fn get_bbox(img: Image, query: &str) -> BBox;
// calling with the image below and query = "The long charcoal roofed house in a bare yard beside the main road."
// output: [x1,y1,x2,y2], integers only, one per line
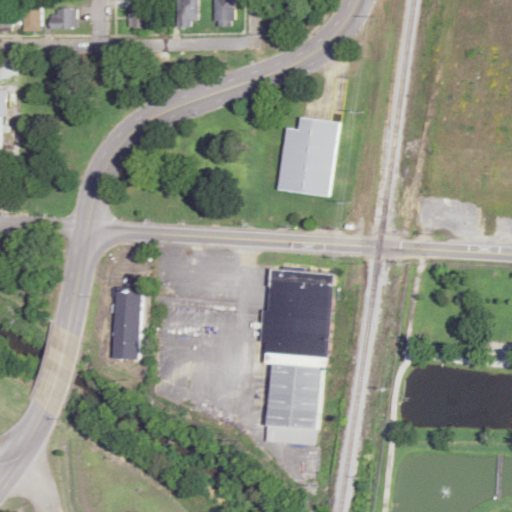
[110,288,146,361]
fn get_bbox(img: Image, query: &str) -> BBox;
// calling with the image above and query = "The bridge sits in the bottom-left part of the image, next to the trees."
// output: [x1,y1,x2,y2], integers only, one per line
[22,321,85,426]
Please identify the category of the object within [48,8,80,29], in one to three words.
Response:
house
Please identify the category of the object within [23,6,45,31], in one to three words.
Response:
house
